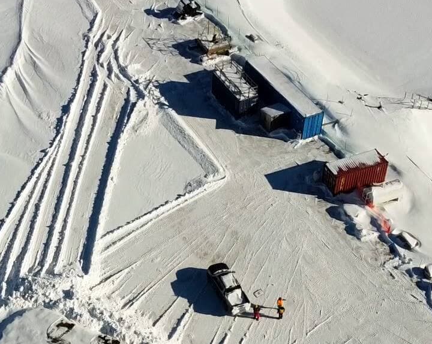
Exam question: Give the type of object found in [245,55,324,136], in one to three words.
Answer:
shipping container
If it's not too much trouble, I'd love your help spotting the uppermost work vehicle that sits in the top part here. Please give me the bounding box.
[172,0,199,24]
